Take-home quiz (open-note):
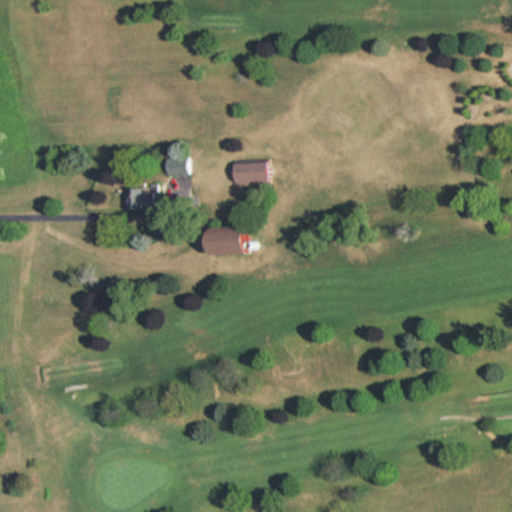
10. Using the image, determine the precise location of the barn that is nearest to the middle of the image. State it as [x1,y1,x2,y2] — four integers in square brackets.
[200,229,248,254]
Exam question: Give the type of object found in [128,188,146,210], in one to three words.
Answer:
house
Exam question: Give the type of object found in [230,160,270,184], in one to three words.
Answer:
barn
